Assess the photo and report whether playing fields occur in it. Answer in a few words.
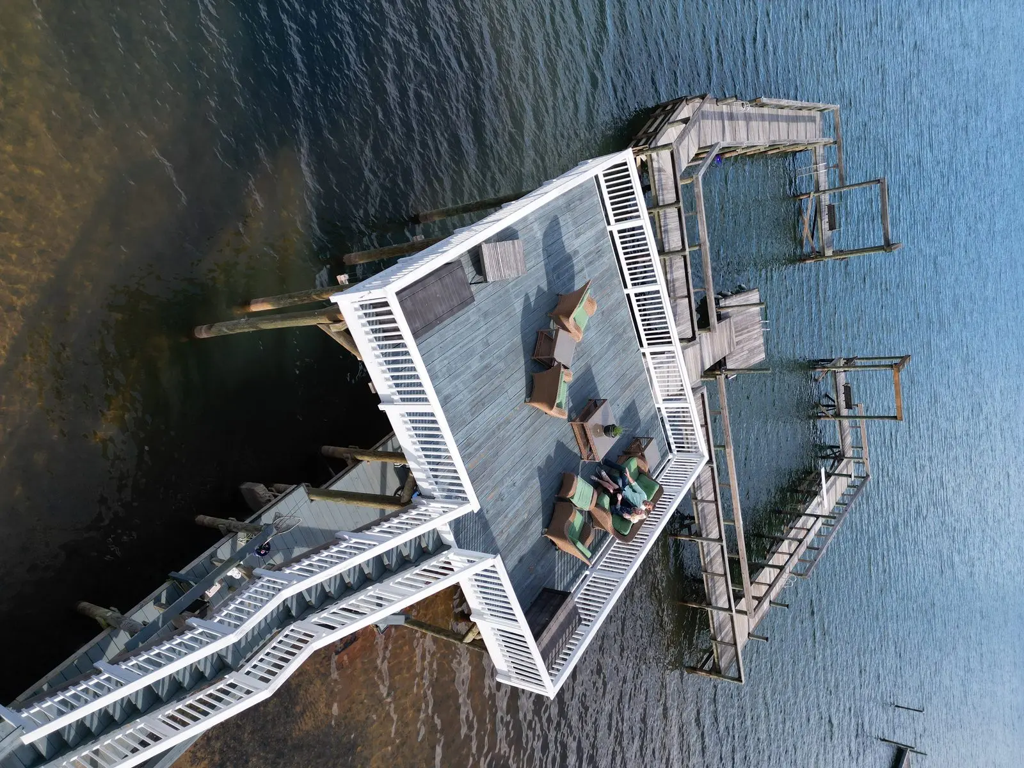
No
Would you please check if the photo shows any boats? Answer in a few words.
No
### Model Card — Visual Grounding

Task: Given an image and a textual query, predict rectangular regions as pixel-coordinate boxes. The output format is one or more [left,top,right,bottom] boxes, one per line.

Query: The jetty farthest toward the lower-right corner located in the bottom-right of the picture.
[890,748,912,768]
